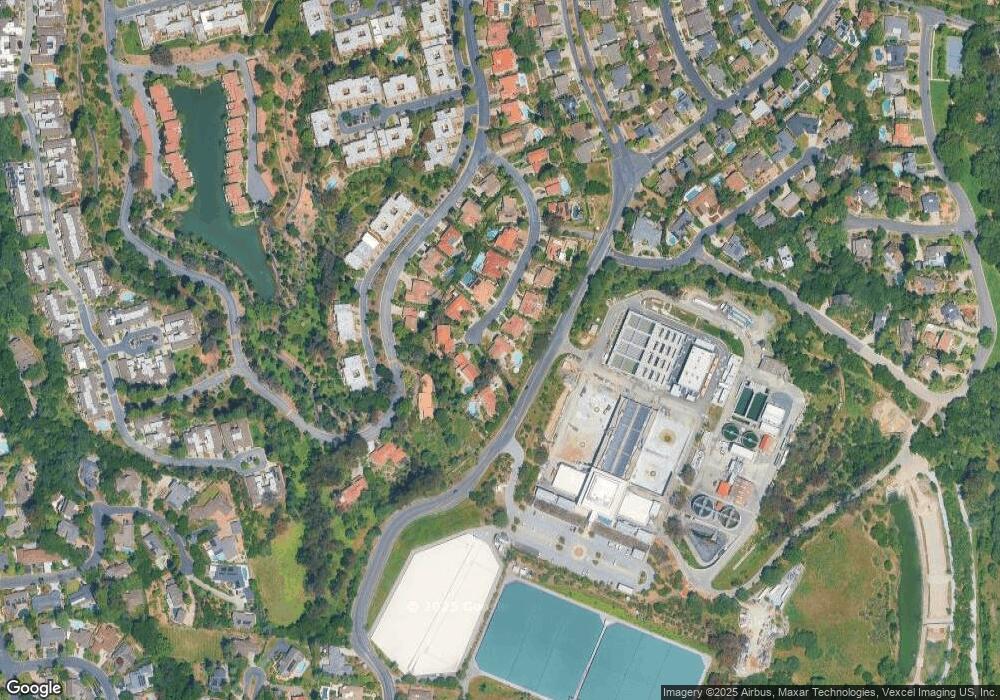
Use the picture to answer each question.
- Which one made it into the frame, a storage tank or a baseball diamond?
storage tank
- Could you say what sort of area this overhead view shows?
residential area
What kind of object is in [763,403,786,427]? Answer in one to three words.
shed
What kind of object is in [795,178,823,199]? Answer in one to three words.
house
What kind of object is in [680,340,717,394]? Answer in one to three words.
building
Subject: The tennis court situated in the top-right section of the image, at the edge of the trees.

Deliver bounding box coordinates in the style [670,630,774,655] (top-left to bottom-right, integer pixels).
[945,35,963,78]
